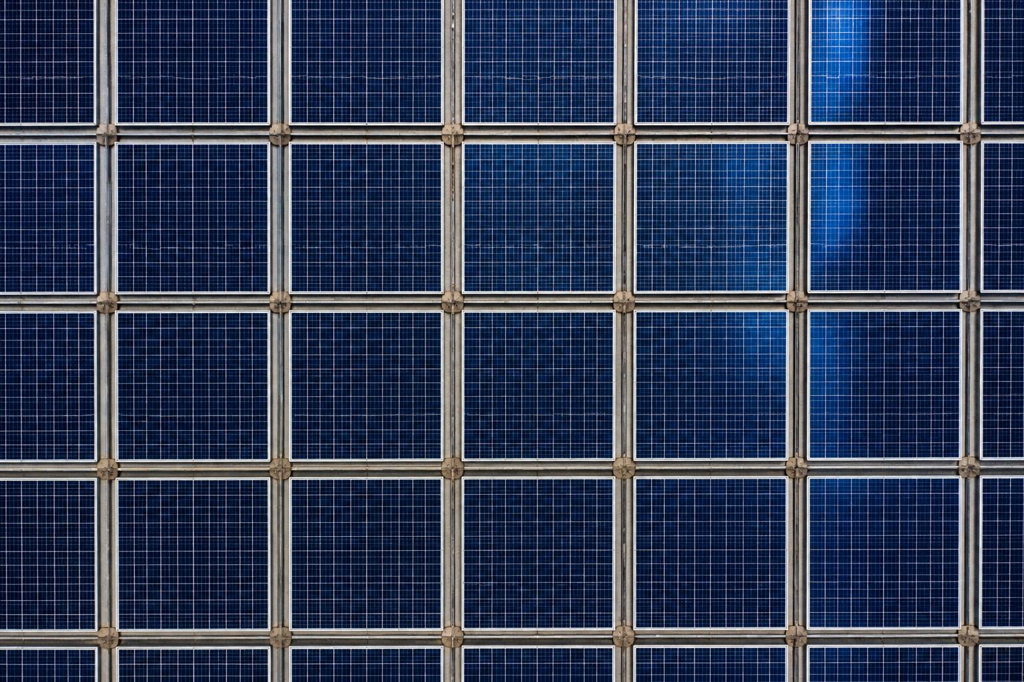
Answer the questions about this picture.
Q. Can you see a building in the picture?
No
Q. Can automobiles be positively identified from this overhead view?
No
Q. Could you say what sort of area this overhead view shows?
solar farm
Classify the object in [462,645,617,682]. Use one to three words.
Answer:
solar panel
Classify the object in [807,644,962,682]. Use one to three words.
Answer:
solar panel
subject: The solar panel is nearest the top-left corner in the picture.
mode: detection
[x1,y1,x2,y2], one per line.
[0,0,97,126]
